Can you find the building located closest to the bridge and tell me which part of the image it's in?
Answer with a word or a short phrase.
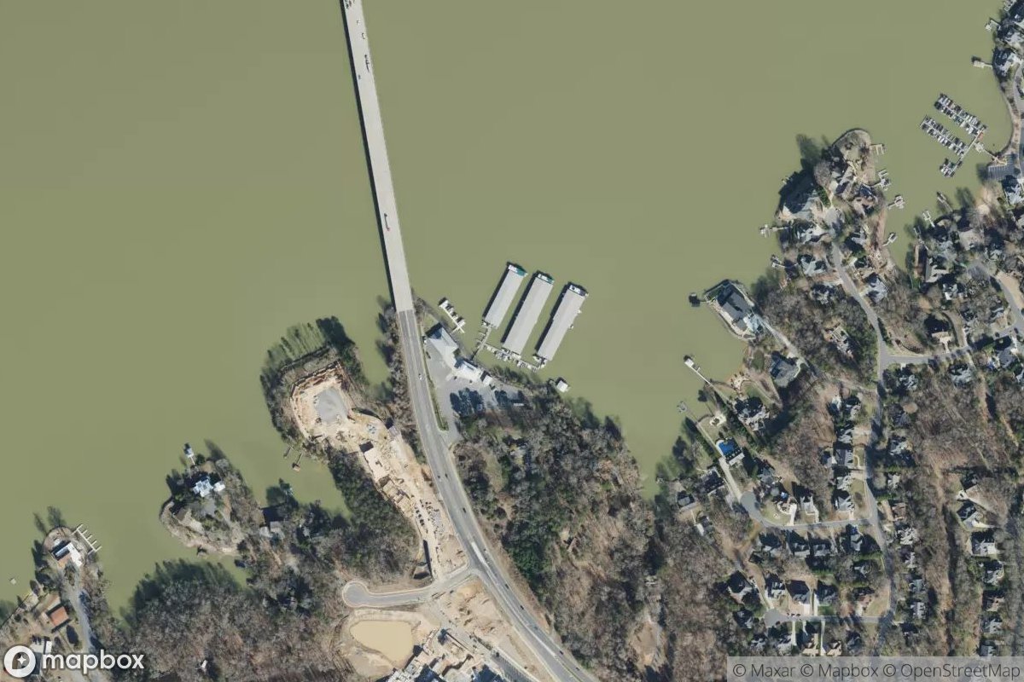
center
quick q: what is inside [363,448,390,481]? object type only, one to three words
building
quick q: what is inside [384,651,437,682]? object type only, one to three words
building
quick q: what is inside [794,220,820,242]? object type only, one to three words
house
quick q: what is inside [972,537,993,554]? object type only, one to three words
house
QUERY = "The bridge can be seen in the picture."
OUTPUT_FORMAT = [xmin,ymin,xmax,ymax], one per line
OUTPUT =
[344,0,414,313]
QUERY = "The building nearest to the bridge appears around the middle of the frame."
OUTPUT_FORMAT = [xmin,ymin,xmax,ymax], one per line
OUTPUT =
[428,327,459,367]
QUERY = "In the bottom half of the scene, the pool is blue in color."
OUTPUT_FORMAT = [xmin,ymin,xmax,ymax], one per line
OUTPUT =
[717,437,736,455]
